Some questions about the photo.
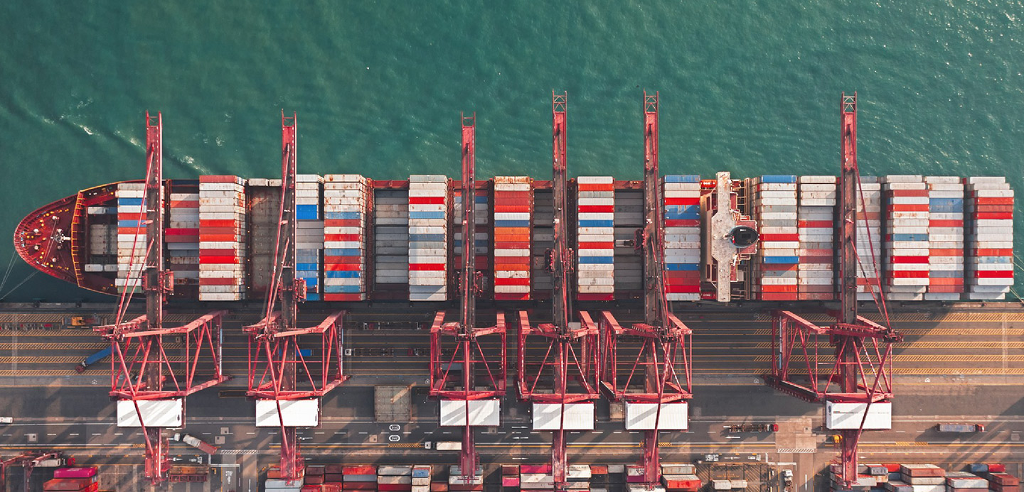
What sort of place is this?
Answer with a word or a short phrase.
port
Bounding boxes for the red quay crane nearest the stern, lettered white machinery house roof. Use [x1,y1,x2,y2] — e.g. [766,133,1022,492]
[759,92,897,490]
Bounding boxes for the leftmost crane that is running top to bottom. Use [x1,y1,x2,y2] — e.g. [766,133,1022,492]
[100,112,246,490]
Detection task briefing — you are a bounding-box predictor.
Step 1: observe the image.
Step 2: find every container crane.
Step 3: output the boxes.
[100,112,246,490]
[428,112,512,490]
[512,92,600,490]
[591,92,694,490]
[245,112,360,490]
[759,92,897,490]
[0,452,59,492]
